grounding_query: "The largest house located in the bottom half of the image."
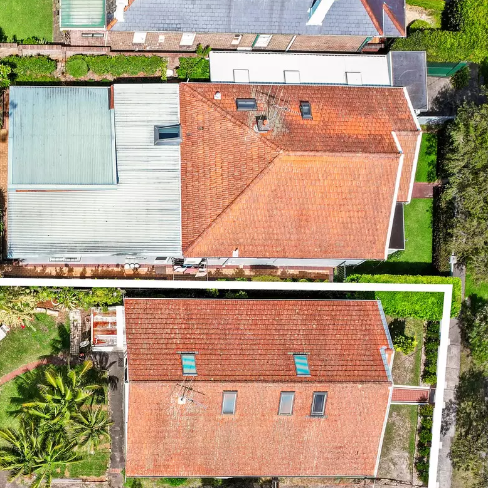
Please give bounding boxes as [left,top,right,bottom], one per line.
[123,298,396,480]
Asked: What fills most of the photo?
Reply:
buildings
